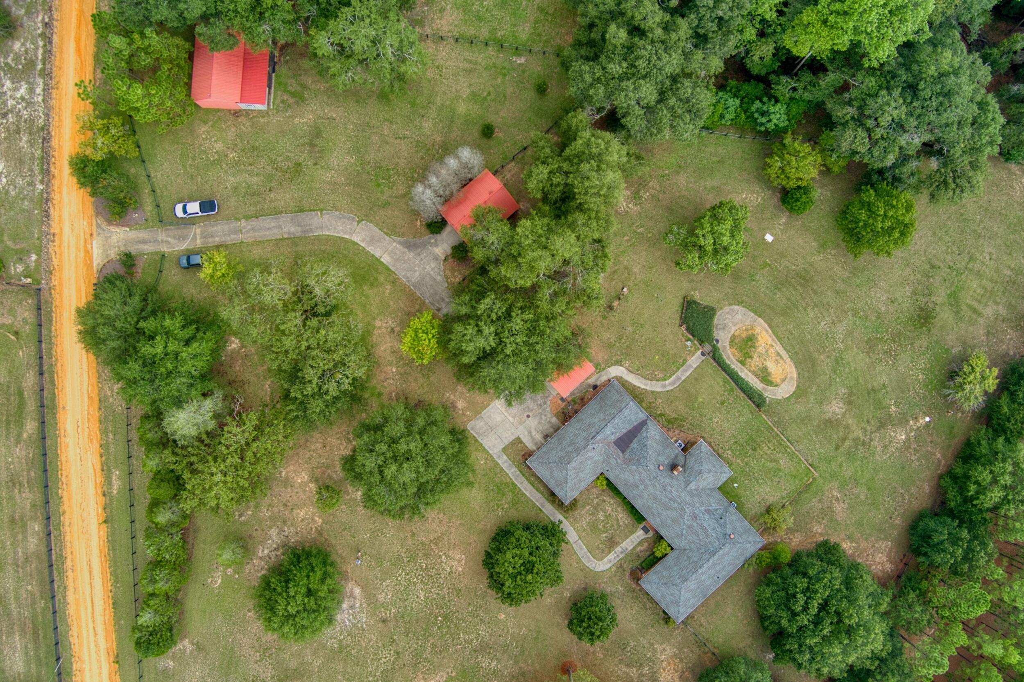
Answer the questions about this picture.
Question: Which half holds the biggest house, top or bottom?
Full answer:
You can find the biggest house in the bottom half.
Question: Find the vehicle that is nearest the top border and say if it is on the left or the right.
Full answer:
It is on the left.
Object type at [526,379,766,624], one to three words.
house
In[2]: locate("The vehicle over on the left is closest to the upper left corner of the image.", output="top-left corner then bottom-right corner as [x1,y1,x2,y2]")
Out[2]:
[173,199,221,219]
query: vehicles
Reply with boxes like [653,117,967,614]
[173,199,221,219]
[178,253,221,270]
